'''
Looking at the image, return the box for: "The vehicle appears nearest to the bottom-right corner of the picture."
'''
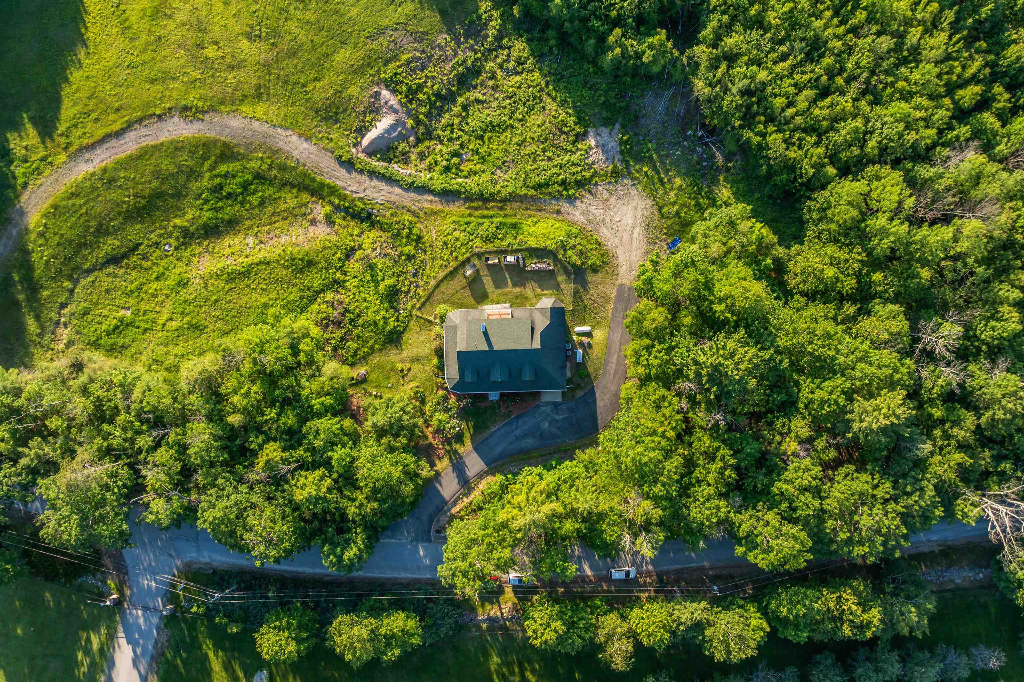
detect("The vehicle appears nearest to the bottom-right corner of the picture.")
[608,563,634,577]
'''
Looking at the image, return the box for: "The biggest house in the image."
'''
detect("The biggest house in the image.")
[443,296,572,398]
